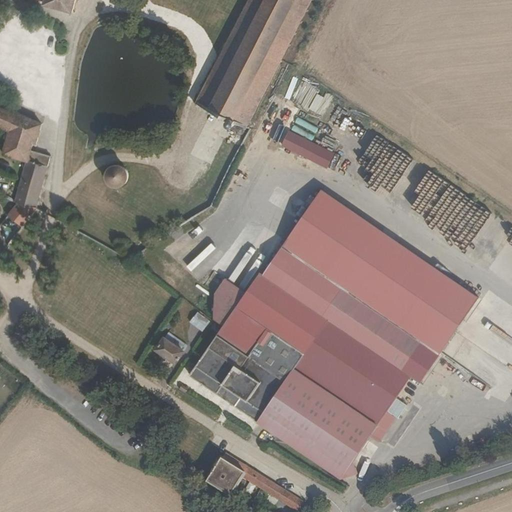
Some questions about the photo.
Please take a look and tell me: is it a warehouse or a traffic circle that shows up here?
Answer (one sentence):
The image shows a warehouse.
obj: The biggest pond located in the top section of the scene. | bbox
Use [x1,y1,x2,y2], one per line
[76,14,186,144]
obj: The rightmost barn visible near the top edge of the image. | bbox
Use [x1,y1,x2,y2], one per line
[196,0,308,124]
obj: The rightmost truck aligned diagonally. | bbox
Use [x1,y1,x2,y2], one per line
[484,320,512,342]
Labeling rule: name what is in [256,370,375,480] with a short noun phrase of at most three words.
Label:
building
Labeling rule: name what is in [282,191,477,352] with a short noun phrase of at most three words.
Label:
warehouse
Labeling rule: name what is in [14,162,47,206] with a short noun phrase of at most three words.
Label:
house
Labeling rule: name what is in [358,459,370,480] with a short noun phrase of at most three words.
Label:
vehicle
